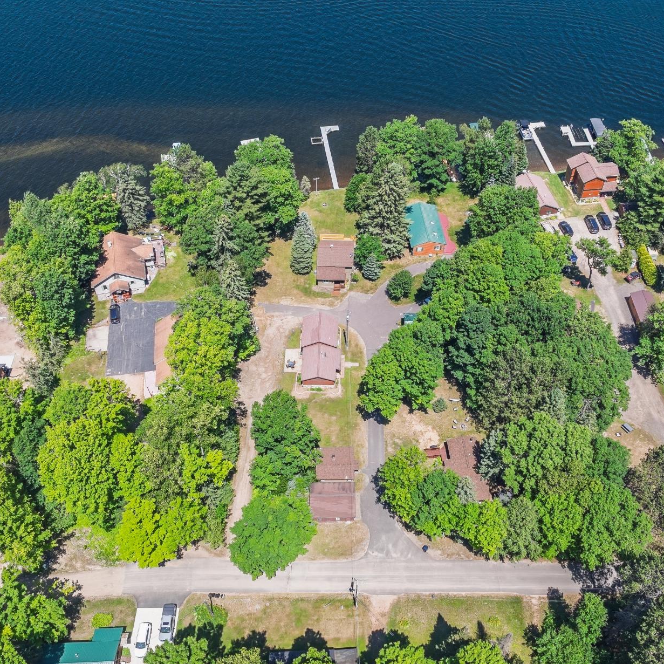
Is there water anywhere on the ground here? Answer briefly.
Yes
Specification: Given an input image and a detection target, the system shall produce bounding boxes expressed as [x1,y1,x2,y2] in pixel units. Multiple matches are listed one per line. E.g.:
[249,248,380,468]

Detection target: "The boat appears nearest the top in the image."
[517,118,532,140]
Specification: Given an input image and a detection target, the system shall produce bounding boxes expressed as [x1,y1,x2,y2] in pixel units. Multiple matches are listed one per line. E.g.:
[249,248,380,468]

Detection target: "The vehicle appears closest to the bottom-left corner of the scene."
[131,622,152,659]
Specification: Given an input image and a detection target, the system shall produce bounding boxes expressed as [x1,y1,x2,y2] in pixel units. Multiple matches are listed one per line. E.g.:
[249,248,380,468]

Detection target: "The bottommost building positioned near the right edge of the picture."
[629,291,664,333]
